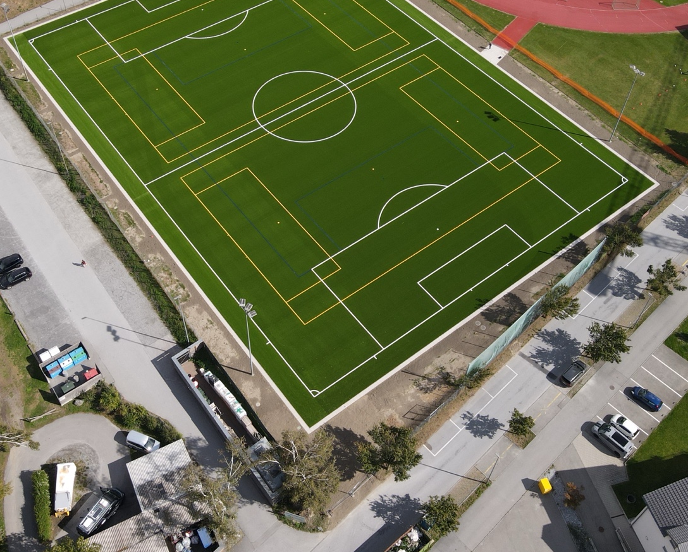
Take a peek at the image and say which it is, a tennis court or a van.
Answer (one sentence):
Looking from above, you can make out a van.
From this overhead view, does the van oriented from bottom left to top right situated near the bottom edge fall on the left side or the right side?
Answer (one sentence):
The van oriented from bottom left to top right situated near the bottom edge appears in the left half of the scene.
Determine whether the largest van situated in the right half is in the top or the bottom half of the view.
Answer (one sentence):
The largest van situated in the right half is in the bottom half of the image.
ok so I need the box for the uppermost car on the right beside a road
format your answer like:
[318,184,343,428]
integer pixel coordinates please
[559,357,589,390]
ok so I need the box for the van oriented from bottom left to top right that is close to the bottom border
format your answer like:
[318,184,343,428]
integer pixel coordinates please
[79,488,127,537]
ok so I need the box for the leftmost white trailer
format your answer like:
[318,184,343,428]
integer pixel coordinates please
[55,458,78,526]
